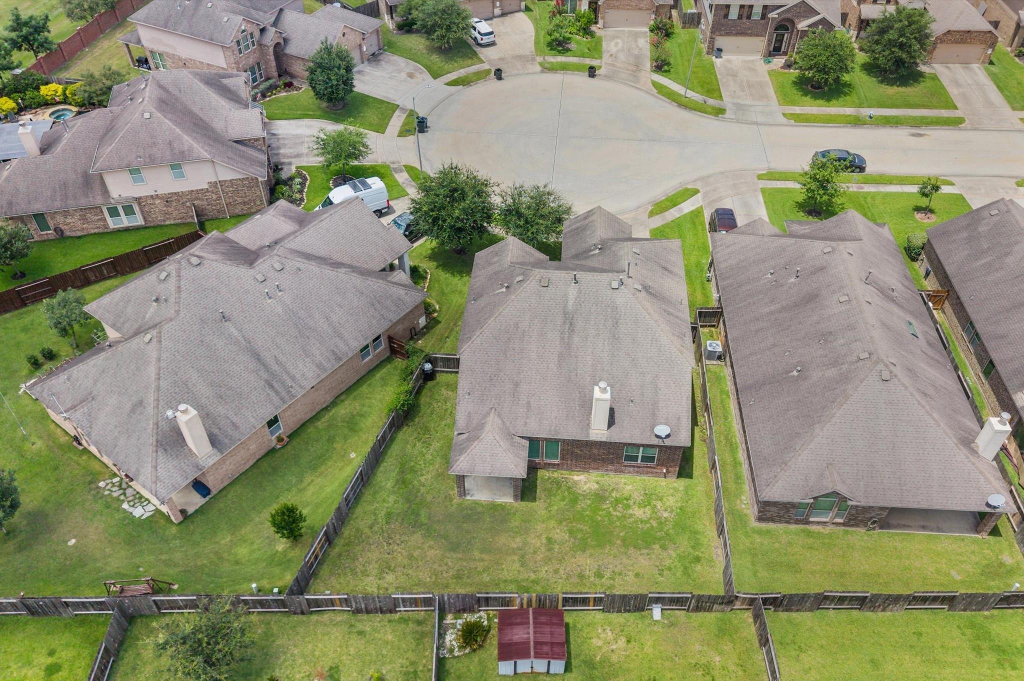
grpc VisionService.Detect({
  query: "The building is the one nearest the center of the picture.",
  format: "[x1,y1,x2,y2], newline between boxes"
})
[448,206,695,502]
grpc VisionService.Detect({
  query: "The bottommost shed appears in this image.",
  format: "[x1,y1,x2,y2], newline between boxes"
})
[498,608,568,676]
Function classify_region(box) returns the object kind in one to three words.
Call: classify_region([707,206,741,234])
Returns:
car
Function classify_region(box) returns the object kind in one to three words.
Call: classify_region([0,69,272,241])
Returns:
house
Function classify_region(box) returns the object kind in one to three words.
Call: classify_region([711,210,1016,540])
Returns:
house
